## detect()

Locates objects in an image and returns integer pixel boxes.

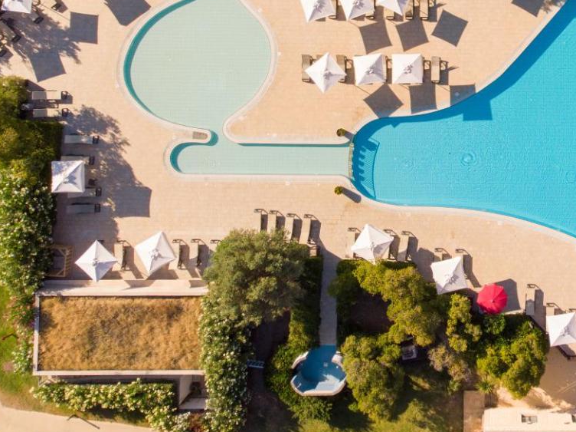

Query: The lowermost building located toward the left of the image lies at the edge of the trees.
[33,281,215,374]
